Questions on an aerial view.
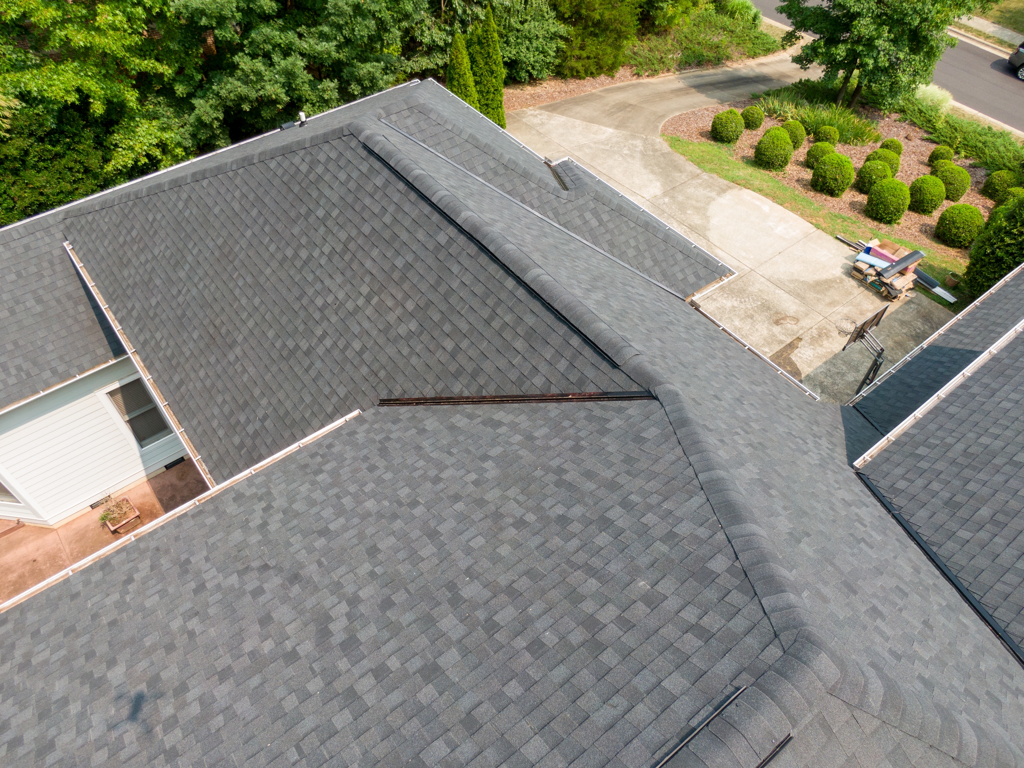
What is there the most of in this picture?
buildings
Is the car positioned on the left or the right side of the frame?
right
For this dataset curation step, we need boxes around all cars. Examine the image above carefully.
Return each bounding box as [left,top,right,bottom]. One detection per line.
[1004,40,1024,82]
